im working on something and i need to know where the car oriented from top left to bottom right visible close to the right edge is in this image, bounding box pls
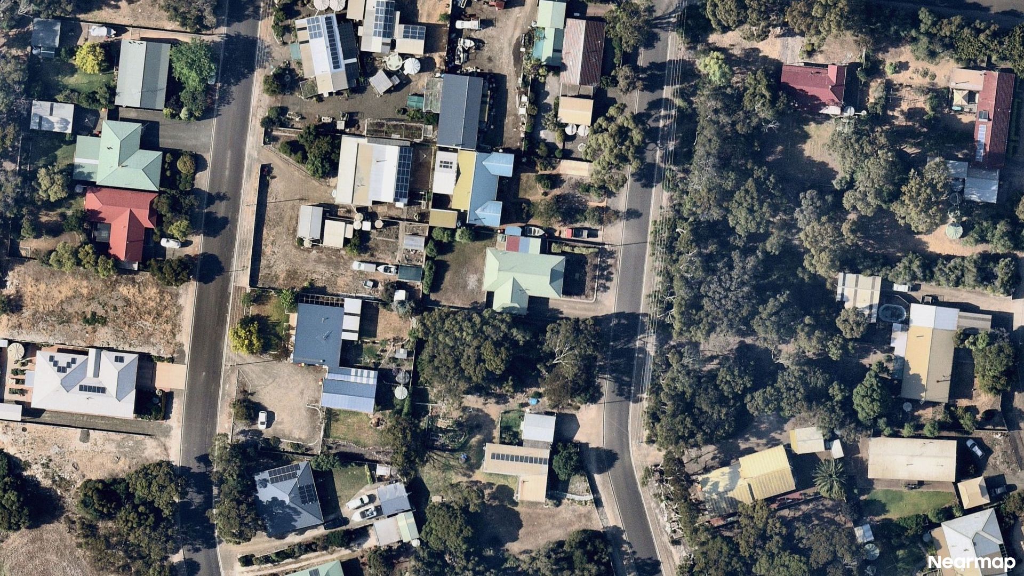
[966,438,986,460]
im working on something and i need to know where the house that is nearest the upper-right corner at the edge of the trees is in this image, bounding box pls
[950,68,1015,169]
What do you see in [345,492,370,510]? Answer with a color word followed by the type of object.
white vehicle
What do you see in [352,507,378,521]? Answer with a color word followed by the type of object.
white boat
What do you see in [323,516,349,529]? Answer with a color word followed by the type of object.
black vehicle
